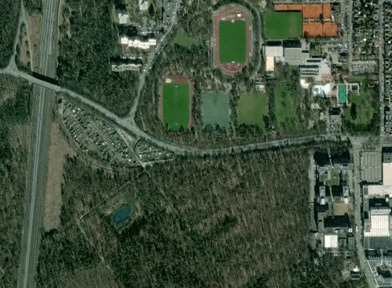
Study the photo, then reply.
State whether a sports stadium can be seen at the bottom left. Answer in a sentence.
No, no sports stadium is visible at the bottom left.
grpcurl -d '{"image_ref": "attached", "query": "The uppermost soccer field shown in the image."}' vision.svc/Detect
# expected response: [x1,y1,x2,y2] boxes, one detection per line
[265,12,301,38]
